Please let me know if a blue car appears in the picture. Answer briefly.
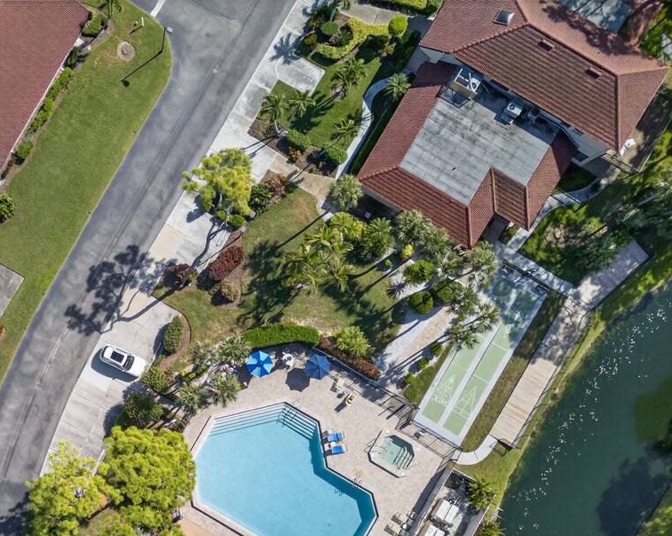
No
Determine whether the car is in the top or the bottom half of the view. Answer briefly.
bottom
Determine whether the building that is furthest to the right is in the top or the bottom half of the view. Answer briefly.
top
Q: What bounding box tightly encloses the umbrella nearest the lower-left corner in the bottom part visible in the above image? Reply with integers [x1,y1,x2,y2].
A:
[247,351,272,377]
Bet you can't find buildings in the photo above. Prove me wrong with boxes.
[0,0,91,172]
[359,0,670,246]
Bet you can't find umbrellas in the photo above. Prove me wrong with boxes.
[247,351,272,377]
[303,353,330,379]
